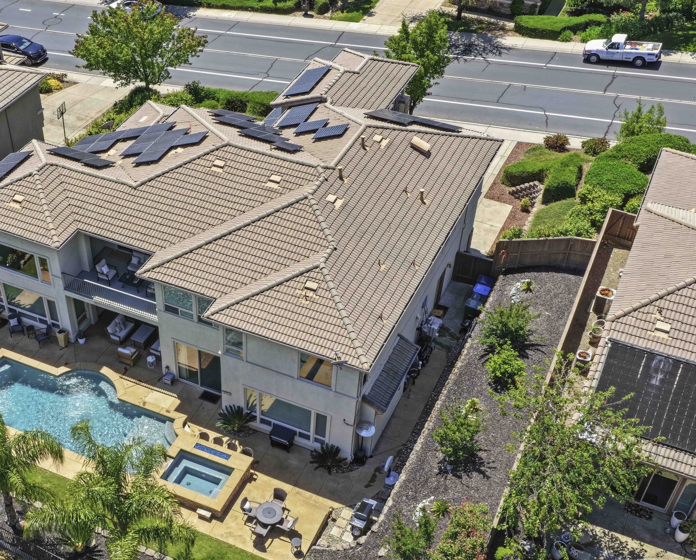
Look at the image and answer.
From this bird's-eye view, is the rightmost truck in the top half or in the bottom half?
top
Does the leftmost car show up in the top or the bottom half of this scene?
top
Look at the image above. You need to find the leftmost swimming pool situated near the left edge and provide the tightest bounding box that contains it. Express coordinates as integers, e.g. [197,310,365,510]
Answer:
[0,348,188,483]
